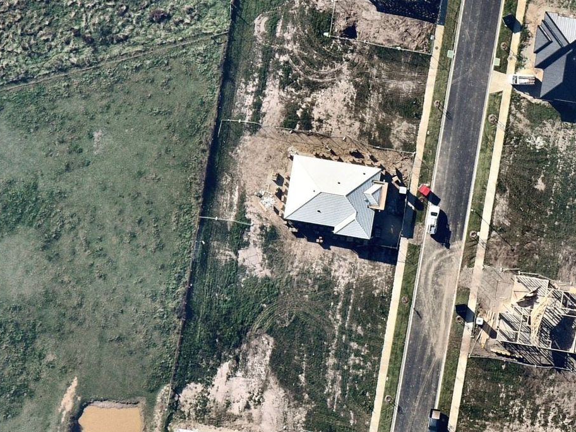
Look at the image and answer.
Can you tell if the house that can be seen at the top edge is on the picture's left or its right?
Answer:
right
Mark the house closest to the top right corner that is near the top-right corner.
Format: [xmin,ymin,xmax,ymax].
[533,12,576,103]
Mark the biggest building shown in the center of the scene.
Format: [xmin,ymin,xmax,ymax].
[283,154,388,239]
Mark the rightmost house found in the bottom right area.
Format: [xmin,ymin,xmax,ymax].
[497,275,576,354]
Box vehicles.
[428,408,442,432]
[424,204,440,236]
[507,72,537,87]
